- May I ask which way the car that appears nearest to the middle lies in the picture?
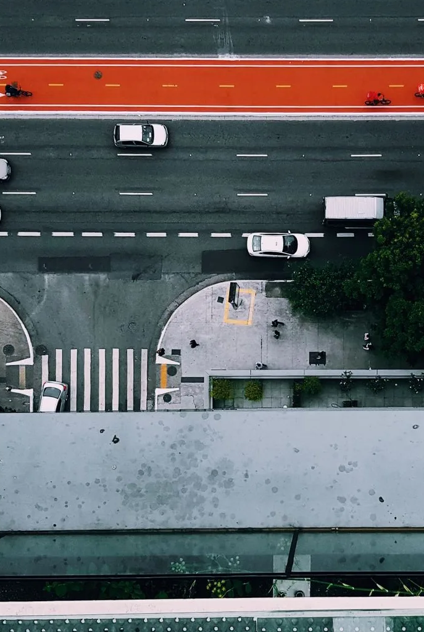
horizontally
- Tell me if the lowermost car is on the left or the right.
left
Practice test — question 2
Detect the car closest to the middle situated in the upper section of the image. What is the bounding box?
[247,229,310,259]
